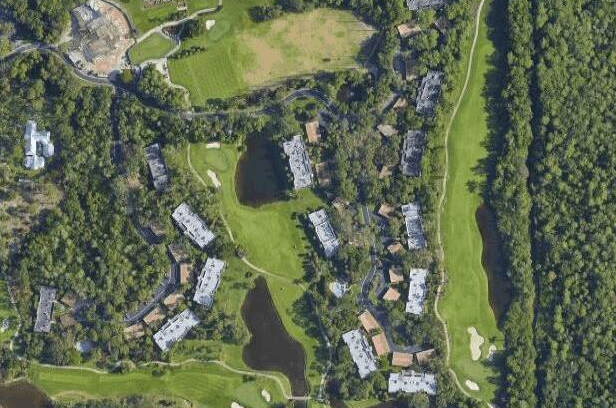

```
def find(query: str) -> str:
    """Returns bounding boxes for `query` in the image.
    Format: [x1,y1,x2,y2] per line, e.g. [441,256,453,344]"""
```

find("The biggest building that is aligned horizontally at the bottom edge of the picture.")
[390,373,436,394]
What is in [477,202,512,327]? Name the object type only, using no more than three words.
pond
